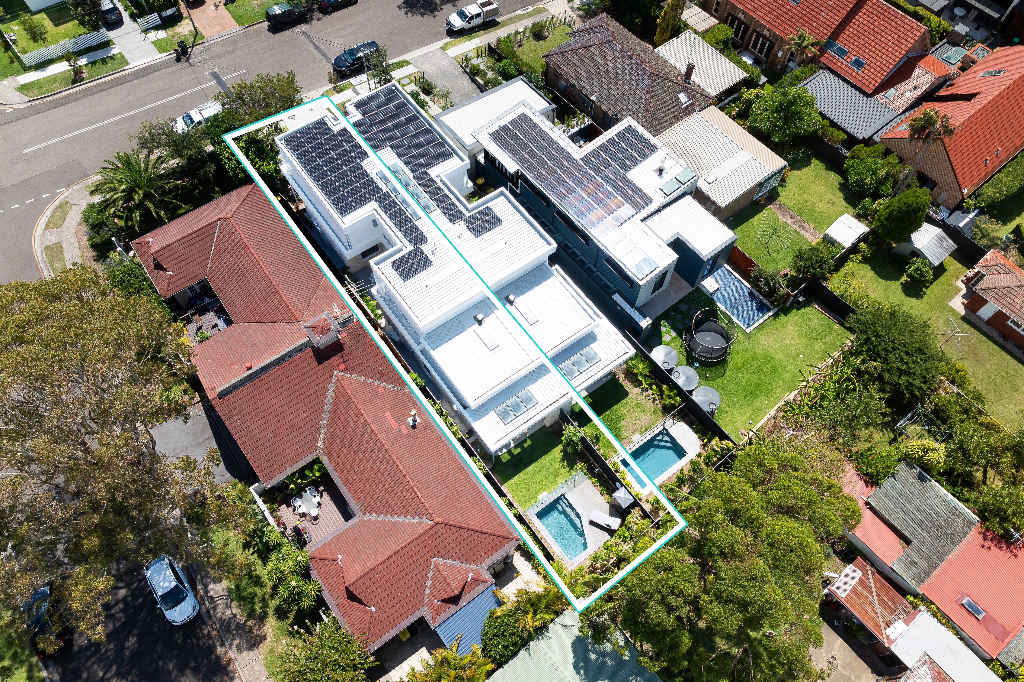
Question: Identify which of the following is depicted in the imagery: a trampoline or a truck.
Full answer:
Of the two, only a trampoline appears.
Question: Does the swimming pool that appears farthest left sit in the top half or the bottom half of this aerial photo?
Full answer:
The swimming pool that appears farthest left sits in the bottom half of the picture.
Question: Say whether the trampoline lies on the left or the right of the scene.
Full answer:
The trampoline appears in the right half of the scene.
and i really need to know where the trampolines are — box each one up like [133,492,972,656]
[684,307,739,365]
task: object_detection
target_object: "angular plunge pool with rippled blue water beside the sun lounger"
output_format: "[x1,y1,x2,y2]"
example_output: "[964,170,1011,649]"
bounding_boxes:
[528,487,593,568]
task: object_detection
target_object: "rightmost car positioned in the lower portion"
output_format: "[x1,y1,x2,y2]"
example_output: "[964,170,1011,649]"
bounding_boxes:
[143,557,199,635]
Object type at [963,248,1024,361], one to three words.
house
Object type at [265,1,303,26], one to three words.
car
